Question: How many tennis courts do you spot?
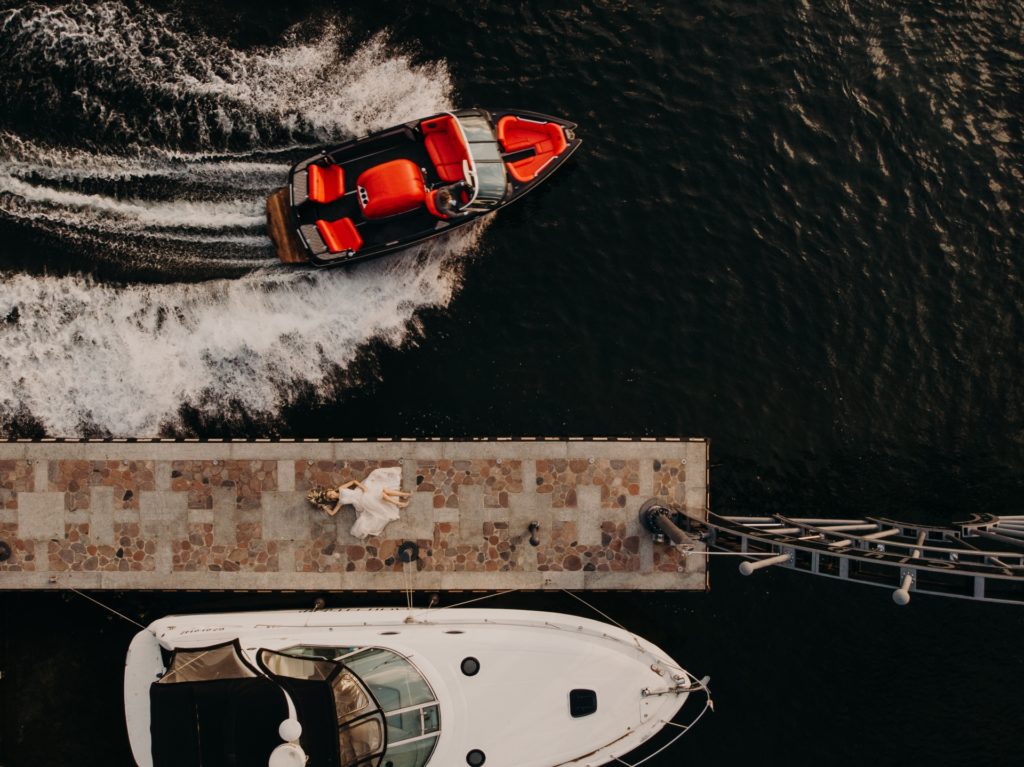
zero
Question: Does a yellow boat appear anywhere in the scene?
No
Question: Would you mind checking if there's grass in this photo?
No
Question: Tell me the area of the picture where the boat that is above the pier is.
top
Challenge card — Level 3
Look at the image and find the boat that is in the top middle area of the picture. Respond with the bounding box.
[266,106,582,267]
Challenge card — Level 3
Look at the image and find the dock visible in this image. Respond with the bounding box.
[0,435,709,594]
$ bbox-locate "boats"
[126,608,713,767]
[266,106,582,267]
